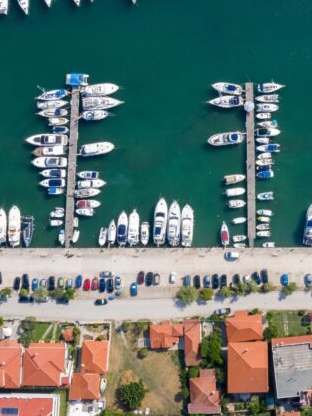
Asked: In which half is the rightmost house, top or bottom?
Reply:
bottom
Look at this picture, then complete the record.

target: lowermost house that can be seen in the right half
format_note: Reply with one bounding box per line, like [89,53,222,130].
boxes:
[188,369,220,412]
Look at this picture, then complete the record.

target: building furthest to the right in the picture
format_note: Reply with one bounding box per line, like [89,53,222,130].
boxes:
[272,334,312,403]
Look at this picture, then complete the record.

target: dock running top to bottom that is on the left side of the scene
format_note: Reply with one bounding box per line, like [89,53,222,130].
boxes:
[64,87,79,248]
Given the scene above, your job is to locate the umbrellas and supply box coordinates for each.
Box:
[244,102,254,112]
[4,327,13,336]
